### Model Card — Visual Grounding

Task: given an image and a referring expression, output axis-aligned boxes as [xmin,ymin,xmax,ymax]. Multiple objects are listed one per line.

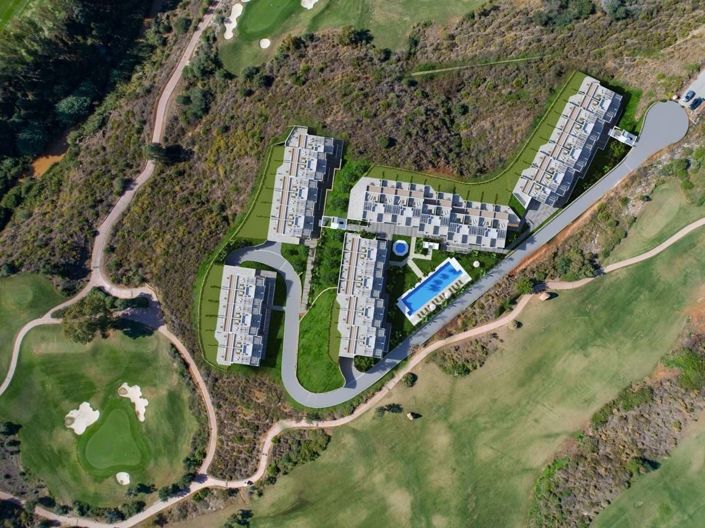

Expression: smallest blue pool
[393,240,408,254]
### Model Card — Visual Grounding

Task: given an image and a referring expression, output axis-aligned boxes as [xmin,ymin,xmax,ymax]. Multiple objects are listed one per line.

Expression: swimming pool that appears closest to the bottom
[397,257,470,325]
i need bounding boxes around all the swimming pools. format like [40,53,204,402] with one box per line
[397,257,470,325]
[393,240,408,254]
